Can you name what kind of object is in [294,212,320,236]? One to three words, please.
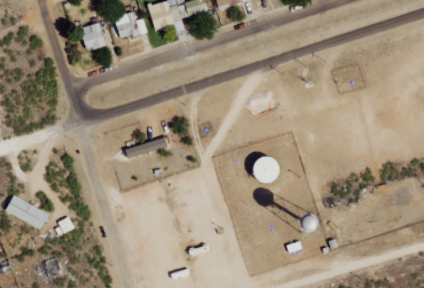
water tower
